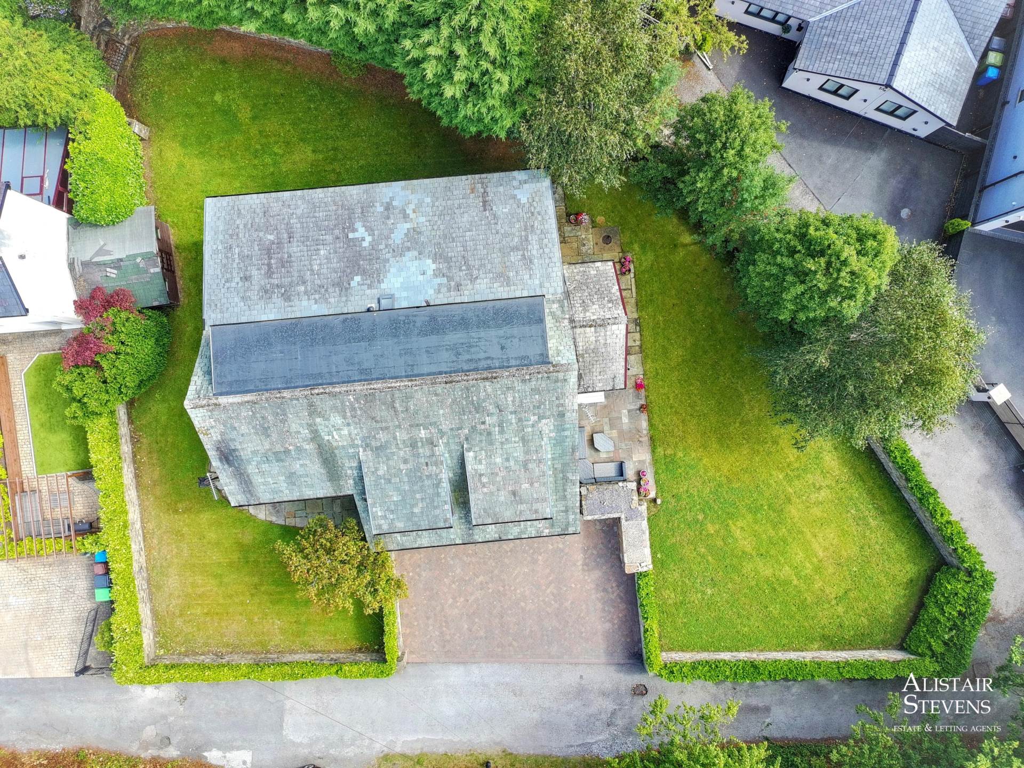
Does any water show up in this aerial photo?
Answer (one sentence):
No, there is no water in the image.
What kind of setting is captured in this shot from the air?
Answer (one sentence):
It's a residential area.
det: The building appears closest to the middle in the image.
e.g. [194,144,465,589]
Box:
[181,168,629,550]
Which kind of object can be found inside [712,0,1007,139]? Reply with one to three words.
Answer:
house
